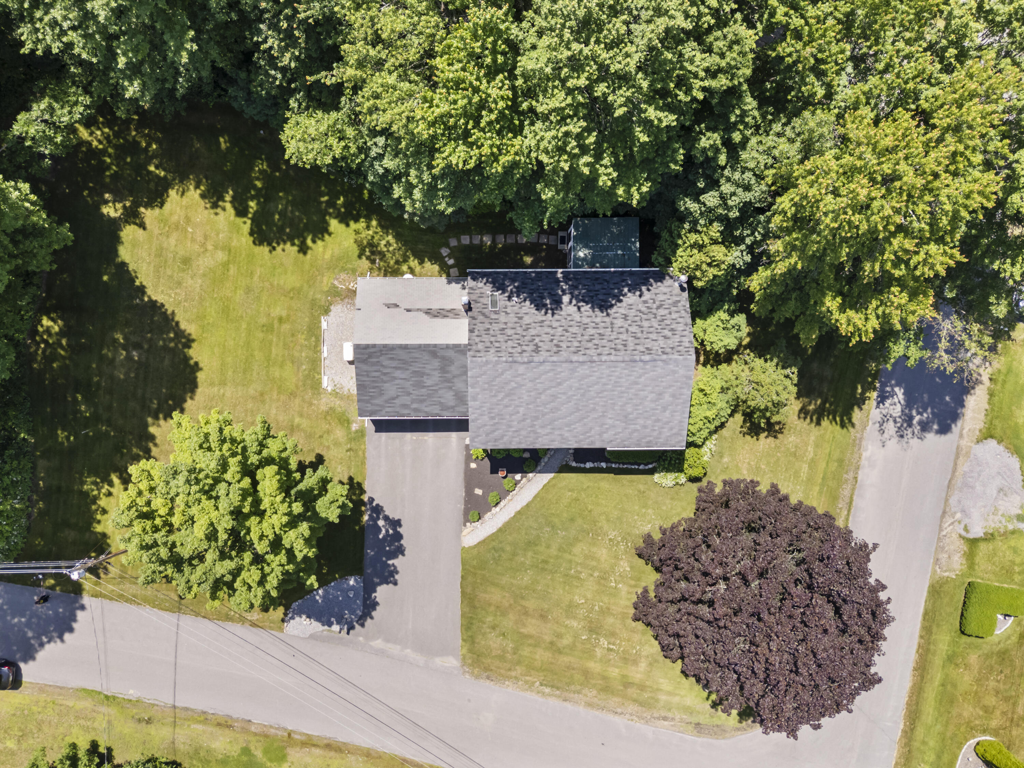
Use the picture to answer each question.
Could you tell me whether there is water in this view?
No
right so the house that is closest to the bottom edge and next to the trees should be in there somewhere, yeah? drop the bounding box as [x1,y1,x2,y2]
[353,266,695,451]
